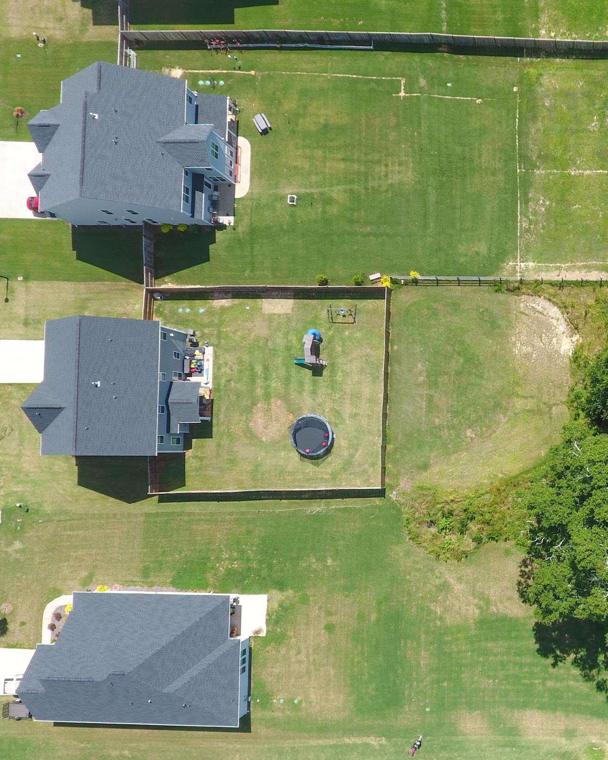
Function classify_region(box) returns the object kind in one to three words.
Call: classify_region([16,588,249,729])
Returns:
house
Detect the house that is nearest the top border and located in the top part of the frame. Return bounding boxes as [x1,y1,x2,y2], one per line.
[27,62,238,226]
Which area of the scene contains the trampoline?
center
